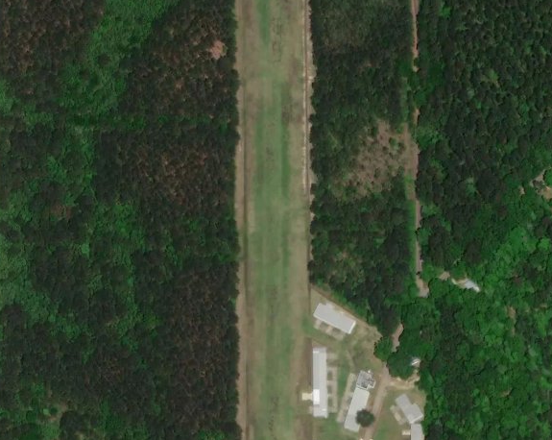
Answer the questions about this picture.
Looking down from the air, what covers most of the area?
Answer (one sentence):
For the most part, this view shows trees.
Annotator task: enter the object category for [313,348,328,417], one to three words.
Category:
building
